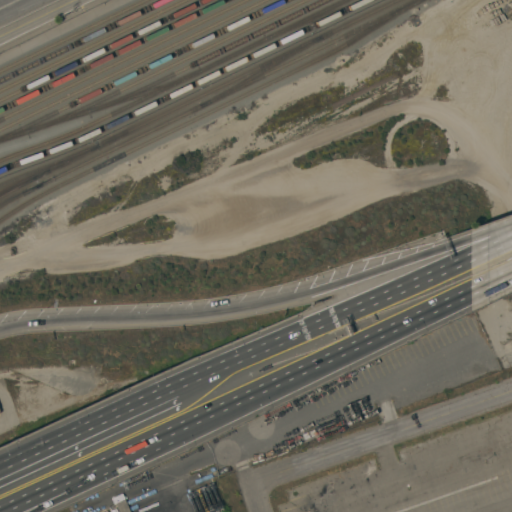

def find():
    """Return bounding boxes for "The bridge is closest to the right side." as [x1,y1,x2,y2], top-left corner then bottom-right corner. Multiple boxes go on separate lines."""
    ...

[472,214,512,312]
